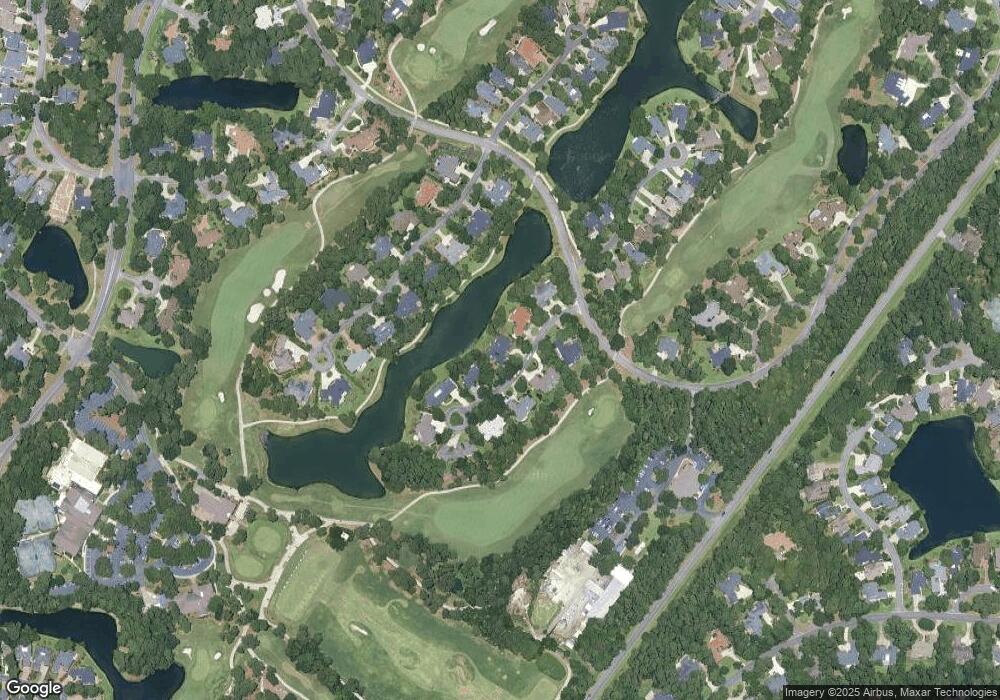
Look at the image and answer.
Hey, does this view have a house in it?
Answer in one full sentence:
Yes, you can see a house in this photo.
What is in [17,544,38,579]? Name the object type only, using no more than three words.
tennis court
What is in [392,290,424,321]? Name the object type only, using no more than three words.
house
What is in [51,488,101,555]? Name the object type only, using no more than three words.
building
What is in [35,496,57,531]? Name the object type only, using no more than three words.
tennis court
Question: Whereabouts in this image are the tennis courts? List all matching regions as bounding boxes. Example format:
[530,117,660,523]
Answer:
[17,544,38,579]
[34,541,56,576]
[35,496,57,531]
[18,499,39,534]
